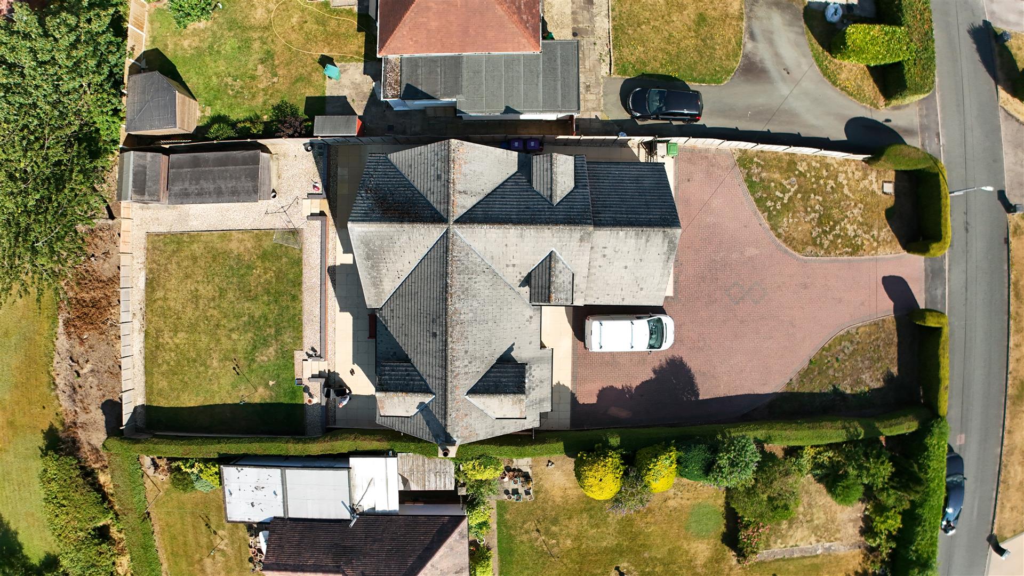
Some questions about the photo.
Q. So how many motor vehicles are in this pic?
3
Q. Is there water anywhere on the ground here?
No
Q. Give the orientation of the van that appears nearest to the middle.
from side to side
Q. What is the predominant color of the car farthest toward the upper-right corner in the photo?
black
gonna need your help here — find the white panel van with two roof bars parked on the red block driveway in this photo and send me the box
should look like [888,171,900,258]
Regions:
[584,312,675,357]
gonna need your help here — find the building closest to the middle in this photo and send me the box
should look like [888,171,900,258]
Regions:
[349,138,682,458]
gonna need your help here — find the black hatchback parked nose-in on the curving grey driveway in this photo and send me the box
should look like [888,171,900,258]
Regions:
[625,79,704,122]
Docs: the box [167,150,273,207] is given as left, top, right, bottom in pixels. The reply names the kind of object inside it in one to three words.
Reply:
shed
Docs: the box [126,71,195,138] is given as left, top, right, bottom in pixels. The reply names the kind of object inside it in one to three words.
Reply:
shed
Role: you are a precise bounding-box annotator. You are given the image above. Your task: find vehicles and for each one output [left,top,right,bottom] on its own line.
[934,452,977,534]
[625,79,704,122]
[584,312,675,357]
